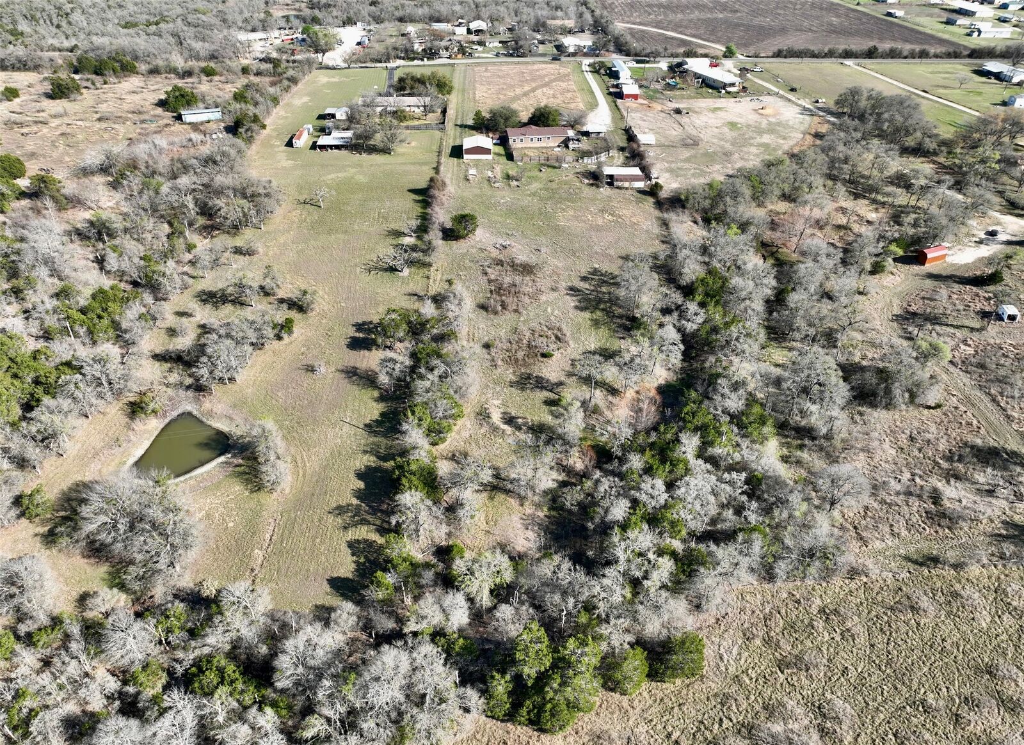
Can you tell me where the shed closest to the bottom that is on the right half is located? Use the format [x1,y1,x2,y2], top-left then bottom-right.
[914,243,951,265]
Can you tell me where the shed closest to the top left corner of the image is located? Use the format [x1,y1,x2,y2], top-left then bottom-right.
[179,103,222,122]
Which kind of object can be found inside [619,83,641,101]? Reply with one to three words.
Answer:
shed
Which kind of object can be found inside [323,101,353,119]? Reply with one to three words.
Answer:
shed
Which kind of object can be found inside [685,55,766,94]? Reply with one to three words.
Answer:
house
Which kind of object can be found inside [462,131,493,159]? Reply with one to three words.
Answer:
building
